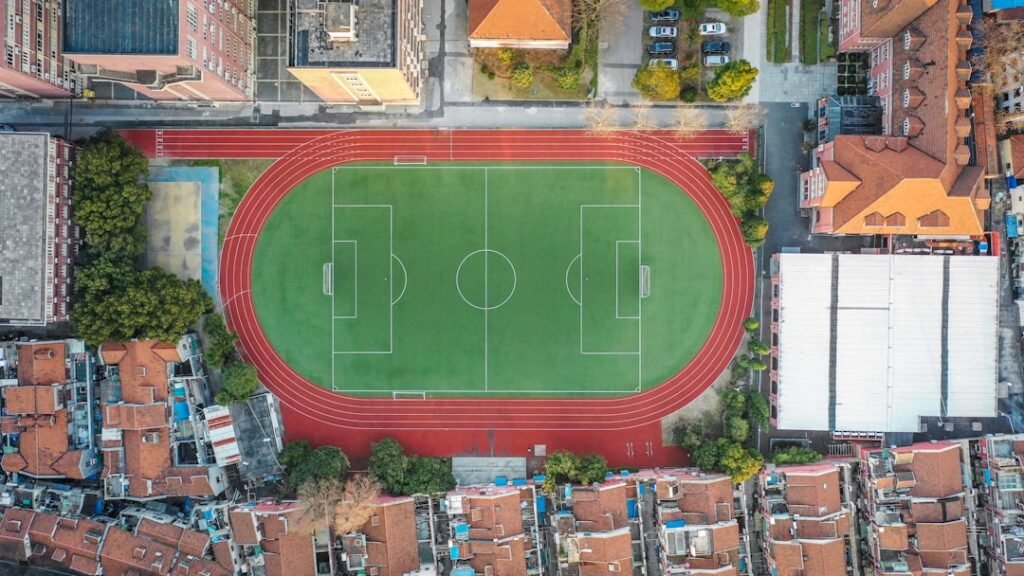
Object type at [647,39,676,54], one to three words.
car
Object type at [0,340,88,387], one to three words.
house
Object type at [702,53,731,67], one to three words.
car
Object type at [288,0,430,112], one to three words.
building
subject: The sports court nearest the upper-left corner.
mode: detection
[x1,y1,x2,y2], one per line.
[112,167,219,298]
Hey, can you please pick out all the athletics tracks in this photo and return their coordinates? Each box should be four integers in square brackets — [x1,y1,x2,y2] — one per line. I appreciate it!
[120,129,757,474]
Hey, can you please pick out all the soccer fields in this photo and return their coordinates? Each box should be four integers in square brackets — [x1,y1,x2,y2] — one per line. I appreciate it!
[252,161,722,398]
